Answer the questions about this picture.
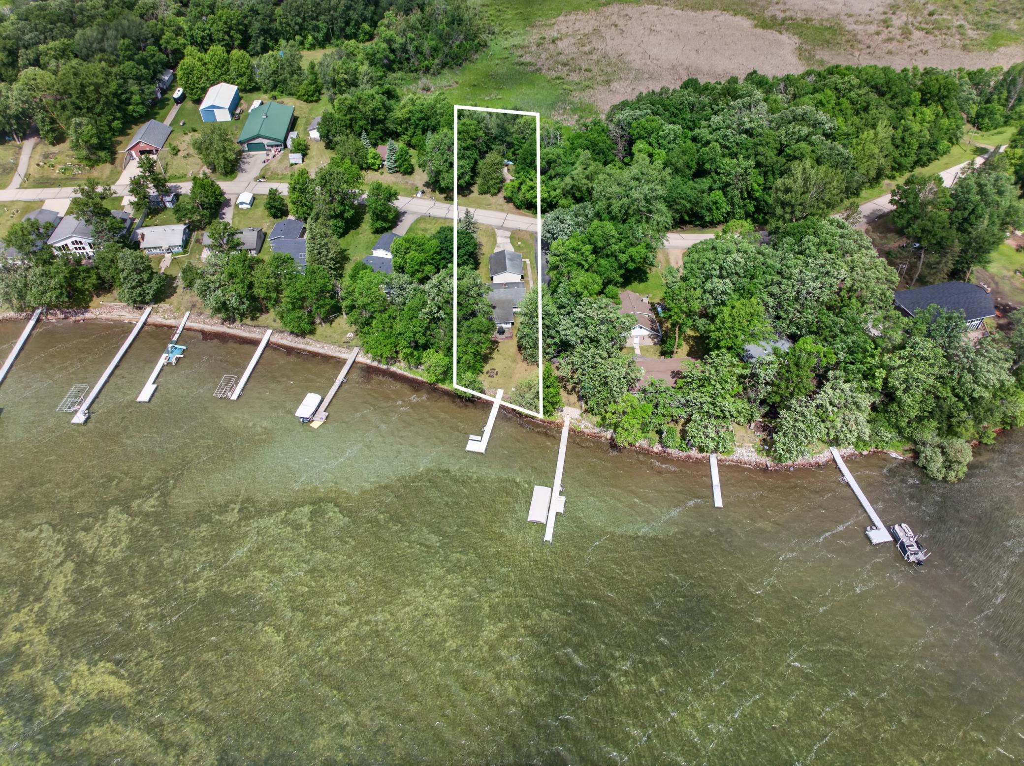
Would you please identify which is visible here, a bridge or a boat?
boat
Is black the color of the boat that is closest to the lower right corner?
No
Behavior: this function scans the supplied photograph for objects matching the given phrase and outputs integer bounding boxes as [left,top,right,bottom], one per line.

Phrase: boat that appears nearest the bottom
[891,524,927,567]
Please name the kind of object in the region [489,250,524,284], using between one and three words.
building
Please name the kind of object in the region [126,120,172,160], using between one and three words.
building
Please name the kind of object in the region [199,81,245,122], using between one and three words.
barn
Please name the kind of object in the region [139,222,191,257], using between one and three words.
house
